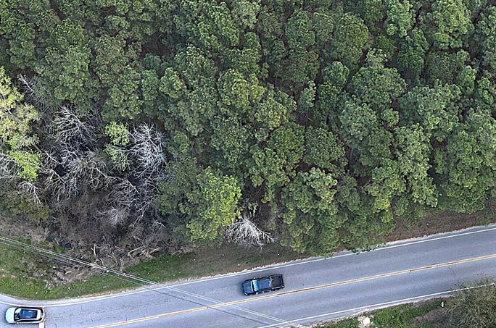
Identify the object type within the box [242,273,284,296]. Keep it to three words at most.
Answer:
truck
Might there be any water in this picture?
No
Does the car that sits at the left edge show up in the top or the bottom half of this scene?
bottom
